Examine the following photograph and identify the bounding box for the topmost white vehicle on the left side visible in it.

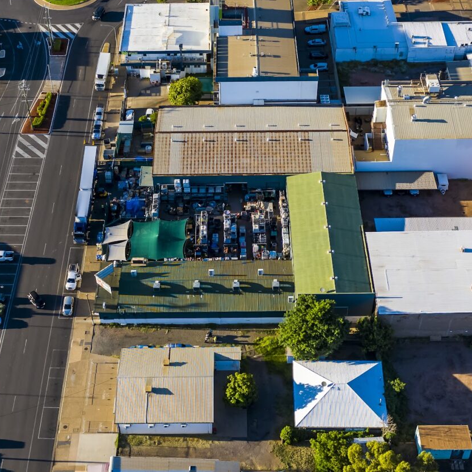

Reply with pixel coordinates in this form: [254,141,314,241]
[93,53,110,91]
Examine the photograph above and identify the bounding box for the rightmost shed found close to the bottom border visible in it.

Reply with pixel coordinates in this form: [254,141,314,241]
[417,424,472,460]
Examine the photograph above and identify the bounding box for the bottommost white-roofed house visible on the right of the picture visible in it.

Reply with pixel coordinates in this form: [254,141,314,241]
[294,360,387,435]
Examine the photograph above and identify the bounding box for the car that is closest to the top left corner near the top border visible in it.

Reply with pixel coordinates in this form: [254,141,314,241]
[92,4,106,20]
